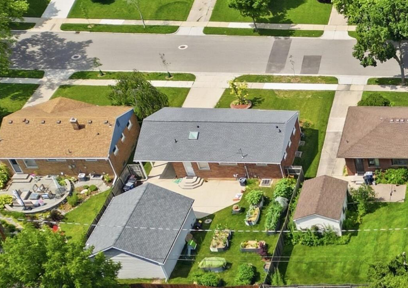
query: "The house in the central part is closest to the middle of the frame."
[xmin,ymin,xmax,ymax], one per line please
[133,108,302,184]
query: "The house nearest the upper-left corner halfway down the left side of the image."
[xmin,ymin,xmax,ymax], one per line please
[0,89,141,180]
